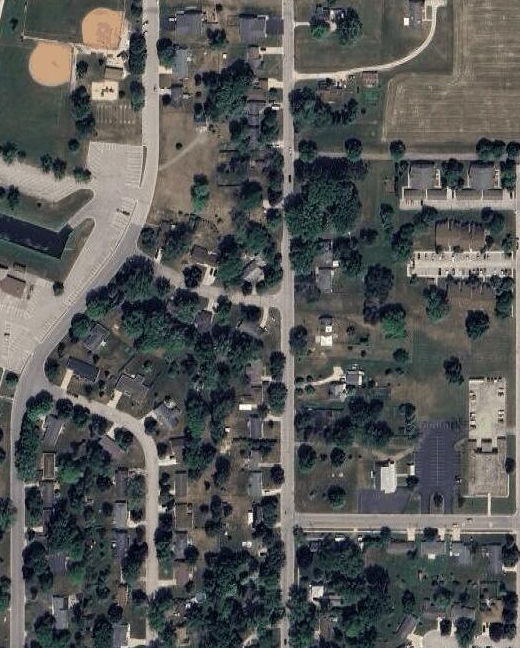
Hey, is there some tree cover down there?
Yes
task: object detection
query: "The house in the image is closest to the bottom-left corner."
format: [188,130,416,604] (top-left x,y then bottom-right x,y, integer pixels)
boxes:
[53,597,67,629]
